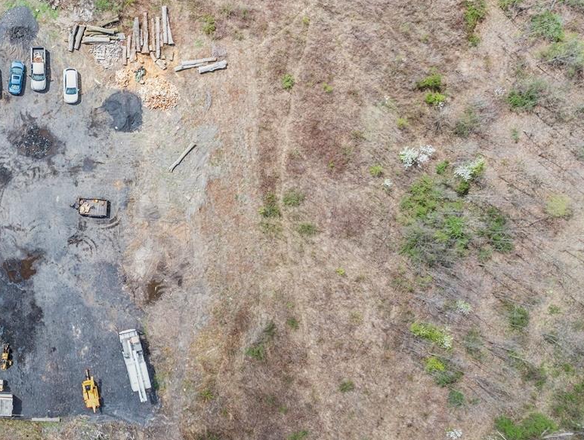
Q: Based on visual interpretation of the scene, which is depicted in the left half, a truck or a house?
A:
truck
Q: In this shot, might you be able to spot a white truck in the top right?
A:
No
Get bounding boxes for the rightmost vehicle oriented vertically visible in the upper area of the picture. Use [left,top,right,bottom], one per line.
[63,67,80,104]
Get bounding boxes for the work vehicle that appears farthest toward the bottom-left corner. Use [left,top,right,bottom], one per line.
[0,343,13,368]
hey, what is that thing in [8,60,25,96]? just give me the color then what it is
blue car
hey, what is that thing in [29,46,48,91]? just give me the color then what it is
white vehicle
